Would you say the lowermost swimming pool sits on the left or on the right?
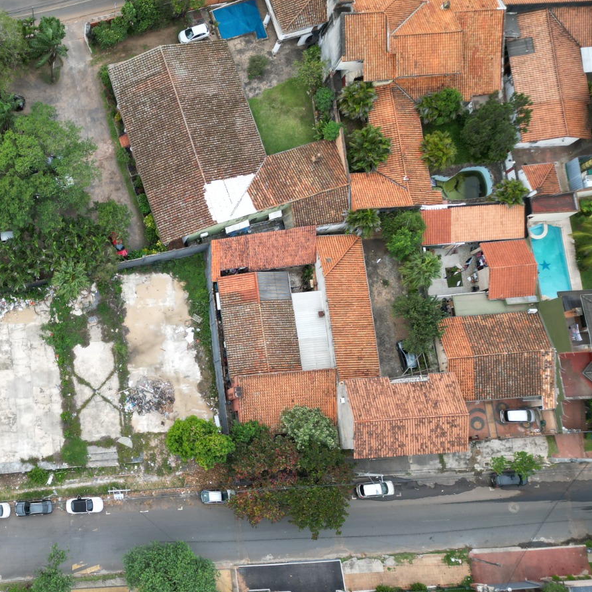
right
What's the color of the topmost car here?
white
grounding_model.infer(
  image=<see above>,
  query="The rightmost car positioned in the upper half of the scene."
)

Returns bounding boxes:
[178,23,211,43]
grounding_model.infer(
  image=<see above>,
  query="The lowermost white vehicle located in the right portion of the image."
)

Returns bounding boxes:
[355,479,395,499]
